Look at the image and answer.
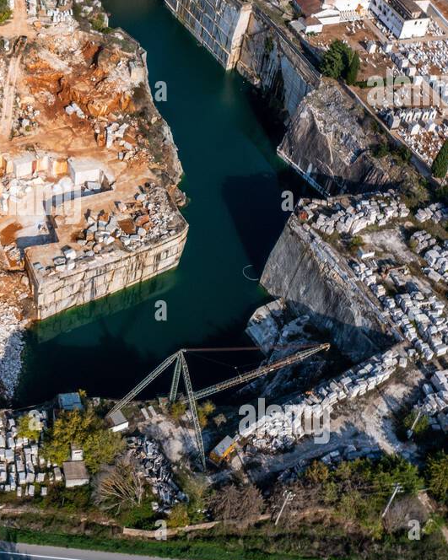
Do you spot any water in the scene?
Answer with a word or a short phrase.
Yes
